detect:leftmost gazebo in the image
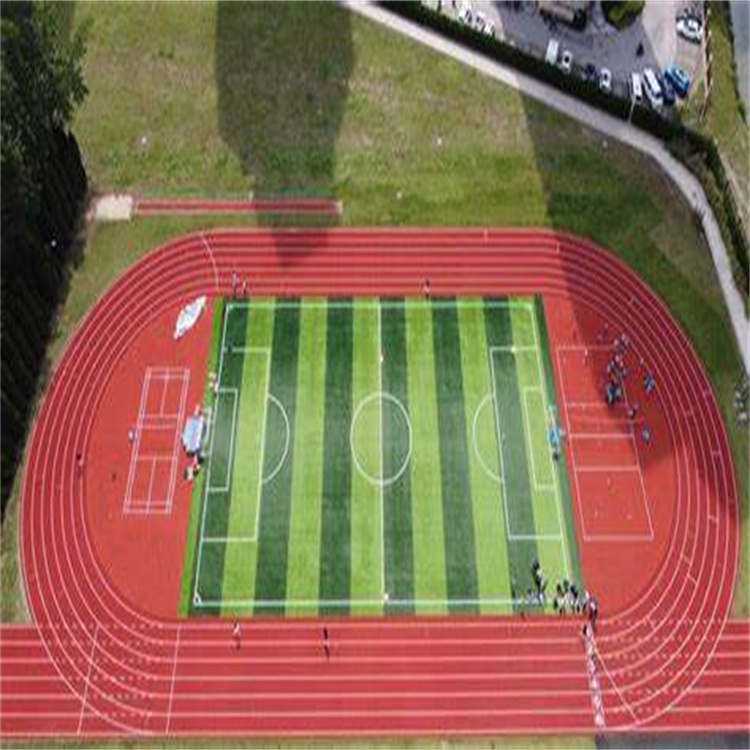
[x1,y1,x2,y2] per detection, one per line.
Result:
[179,415,207,457]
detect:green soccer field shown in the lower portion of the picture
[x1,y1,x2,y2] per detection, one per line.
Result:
[176,295,584,615]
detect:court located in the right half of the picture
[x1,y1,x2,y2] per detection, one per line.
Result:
[555,344,655,541]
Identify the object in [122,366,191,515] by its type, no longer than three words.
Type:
sports court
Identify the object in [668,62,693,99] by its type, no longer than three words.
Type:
vehicle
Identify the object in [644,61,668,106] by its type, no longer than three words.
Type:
bus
